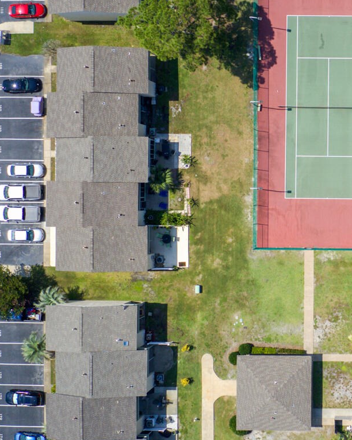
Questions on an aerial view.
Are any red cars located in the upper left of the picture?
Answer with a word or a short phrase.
Yes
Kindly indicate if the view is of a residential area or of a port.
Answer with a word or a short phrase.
residential area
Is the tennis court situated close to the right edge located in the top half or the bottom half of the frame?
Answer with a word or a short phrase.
top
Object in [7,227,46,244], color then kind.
white car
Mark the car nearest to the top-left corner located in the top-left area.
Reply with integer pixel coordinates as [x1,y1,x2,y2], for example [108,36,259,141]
[8,2,48,19]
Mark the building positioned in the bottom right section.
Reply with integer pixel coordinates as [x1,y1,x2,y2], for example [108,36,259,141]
[236,351,313,431]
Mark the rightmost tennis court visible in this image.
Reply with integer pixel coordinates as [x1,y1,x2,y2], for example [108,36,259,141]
[278,15,352,199]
